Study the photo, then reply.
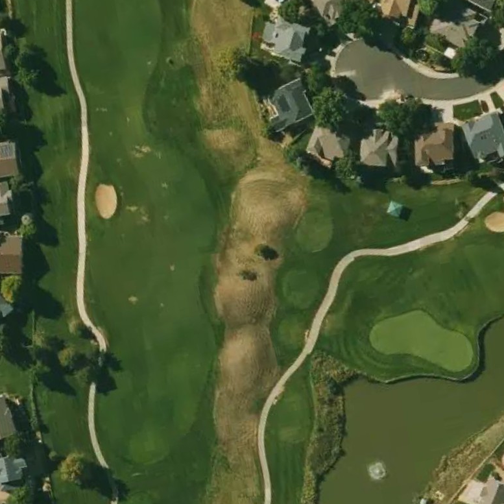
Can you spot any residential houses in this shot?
Yes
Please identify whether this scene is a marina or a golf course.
golf course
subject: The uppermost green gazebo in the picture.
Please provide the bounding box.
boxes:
[387,200,405,218]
